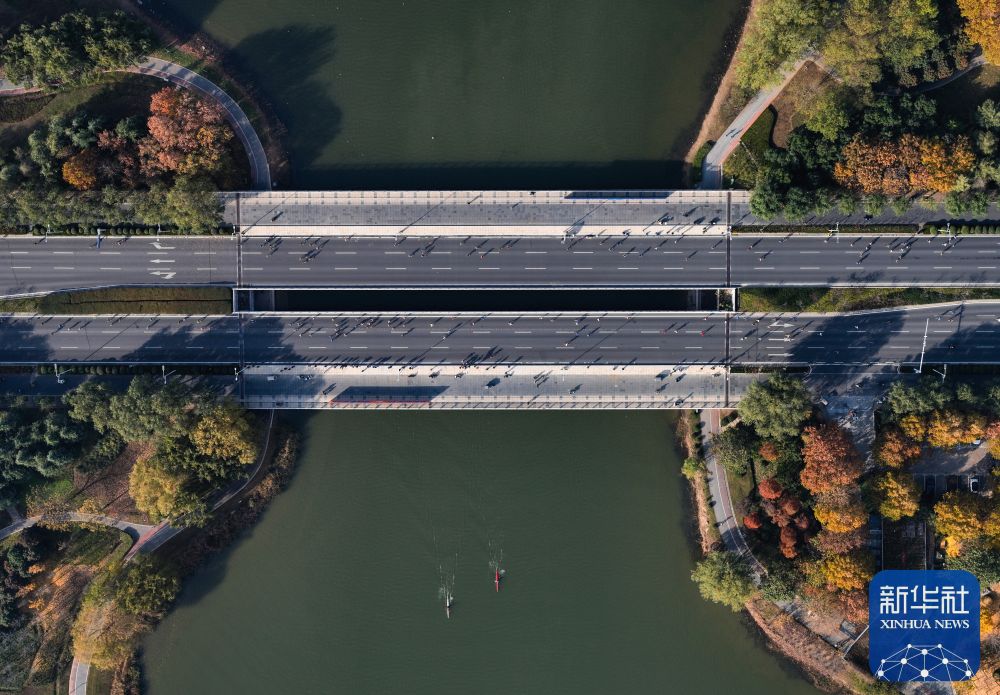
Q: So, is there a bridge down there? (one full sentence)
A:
Yes, a bridge is visible in the scene.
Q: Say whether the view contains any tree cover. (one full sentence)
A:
Yes, some tree cover is visible.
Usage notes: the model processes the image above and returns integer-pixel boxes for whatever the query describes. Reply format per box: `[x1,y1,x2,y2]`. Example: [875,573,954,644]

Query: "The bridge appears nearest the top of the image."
[233,190,751,291]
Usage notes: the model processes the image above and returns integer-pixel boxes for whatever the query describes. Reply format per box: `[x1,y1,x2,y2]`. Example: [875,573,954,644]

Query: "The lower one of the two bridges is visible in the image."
[233,309,739,411]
